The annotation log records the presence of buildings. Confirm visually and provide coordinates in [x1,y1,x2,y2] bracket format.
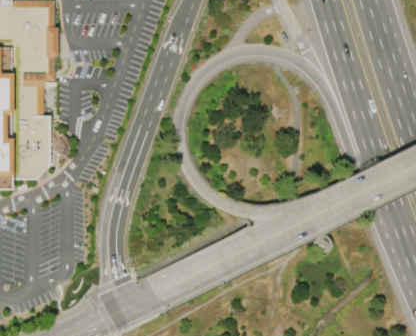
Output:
[0,47,16,190]
[16,116,52,180]
[0,0,59,115]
